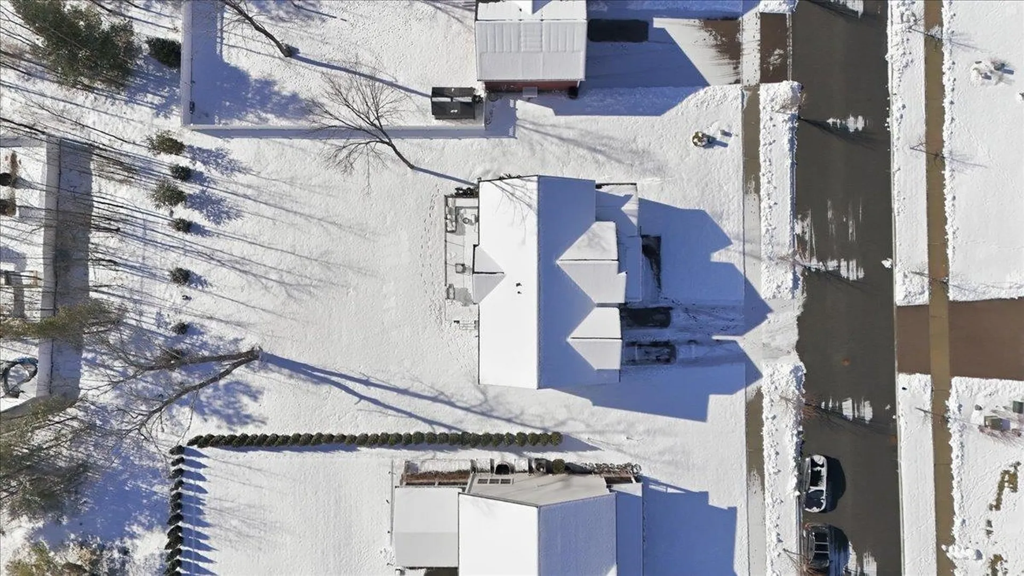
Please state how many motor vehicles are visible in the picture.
2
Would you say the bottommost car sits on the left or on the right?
right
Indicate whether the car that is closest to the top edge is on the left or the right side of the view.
right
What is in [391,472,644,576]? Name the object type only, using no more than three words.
house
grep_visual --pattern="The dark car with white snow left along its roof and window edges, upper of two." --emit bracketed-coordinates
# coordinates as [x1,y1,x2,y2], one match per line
[801,454,829,506]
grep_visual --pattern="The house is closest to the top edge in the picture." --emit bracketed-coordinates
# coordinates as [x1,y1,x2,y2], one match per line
[475,0,588,104]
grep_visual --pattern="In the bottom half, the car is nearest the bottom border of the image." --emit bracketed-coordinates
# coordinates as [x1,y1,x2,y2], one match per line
[802,519,830,572]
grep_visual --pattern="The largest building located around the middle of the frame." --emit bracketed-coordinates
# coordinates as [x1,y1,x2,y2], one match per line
[471,174,641,389]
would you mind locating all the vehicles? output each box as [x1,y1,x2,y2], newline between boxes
[801,454,829,506]
[802,519,830,572]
